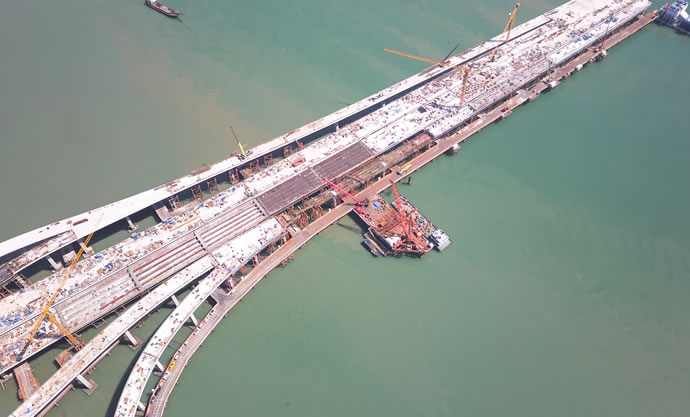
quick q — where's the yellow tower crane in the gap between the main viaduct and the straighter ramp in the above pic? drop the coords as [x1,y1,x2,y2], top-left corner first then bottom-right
[16,216,103,362]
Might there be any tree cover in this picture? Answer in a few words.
No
